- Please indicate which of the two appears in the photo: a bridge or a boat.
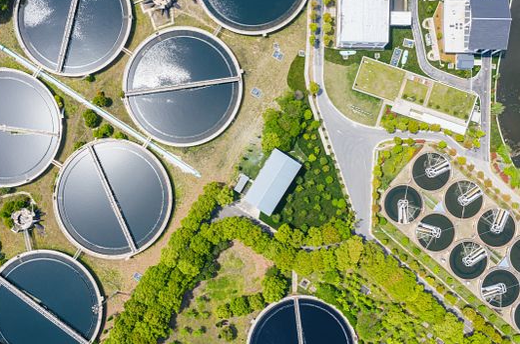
bridge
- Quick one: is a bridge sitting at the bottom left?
Yes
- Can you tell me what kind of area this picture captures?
industrial area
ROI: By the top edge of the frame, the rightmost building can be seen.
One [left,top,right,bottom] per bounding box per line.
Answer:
[467,0,513,55]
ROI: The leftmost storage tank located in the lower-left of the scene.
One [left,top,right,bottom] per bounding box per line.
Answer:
[0,249,109,344]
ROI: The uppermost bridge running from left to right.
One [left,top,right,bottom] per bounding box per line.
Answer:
[122,76,243,98]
